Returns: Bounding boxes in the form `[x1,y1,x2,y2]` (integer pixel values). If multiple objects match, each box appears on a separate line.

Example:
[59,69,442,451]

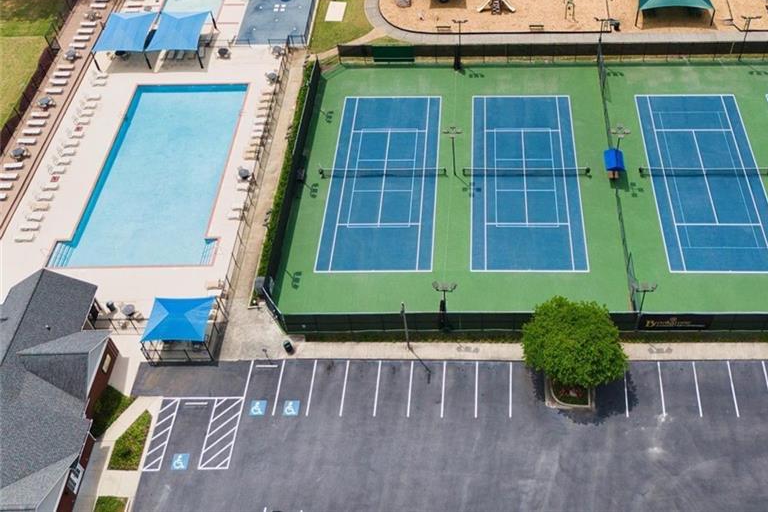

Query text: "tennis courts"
[470,95,589,272]
[635,94,768,273]
[314,96,442,272]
